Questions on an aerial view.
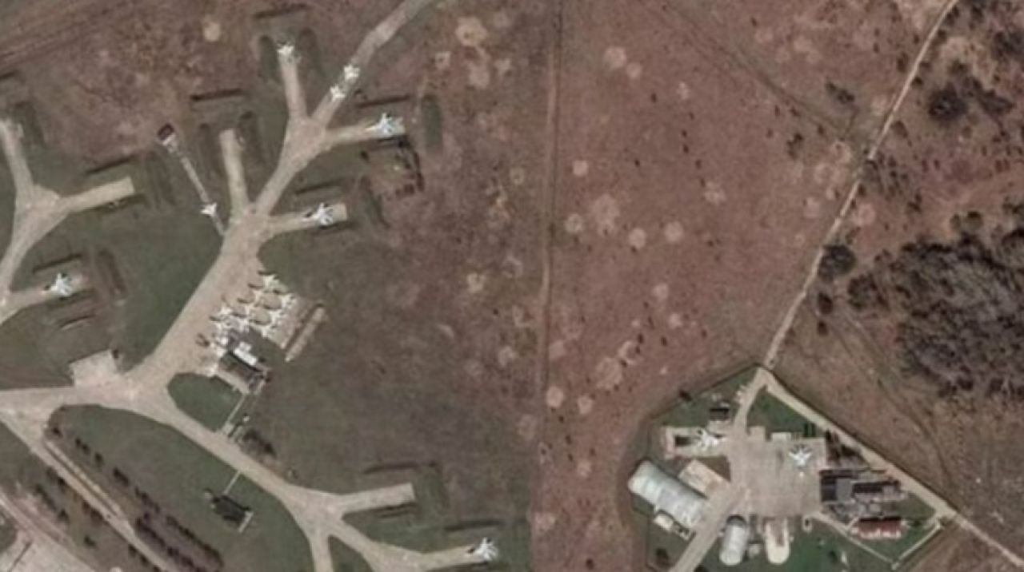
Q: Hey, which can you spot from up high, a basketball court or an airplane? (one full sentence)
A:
Looking from above, you can make out an airplane.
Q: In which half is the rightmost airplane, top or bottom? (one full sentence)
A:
You can find the rightmost airplane in the bottom half.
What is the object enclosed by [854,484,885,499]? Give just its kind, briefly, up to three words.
building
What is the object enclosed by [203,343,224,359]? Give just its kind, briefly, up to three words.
airplane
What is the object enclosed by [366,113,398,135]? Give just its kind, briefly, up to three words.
airplane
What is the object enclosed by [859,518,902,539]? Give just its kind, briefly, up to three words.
house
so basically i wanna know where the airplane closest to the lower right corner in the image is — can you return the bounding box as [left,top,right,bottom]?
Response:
[789,441,811,474]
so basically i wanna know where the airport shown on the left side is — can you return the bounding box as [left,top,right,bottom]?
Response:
[0,0,492,572]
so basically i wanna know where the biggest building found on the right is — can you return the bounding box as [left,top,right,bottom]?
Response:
[628,460,709,526]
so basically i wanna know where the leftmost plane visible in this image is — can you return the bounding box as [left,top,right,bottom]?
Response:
[42,274,75,295]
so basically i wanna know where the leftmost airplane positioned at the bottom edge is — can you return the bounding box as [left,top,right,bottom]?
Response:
[467,539,499,560]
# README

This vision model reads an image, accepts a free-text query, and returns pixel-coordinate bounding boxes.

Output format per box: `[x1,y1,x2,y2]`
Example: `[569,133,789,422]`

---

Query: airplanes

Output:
[789,441,811,474]
[254,324,277,340]
[692,428,723,449]
[216,332,238,348]
[249,289,270,304]
[42,274,75,295]
[203,343,224,359]
[200,198,216,222]
[330,81,347,102]
[366,113,398,135]
[227,317,248,333]
[215,304,237,320]
[277,39,293,64]
[305,203,338,224]
[344,61,361,84]
[278,293,299,309]
[467,539,499,560]
[260,274,281,291]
